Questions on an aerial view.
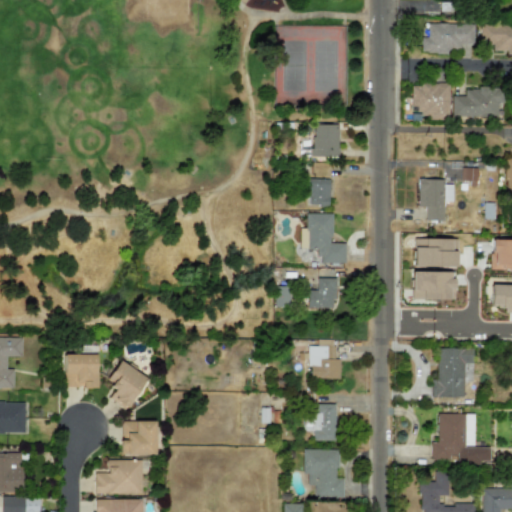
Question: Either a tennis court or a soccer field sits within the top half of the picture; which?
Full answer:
There is a tennis court within the top half of the picture.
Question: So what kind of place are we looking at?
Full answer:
The picture captures a residential area.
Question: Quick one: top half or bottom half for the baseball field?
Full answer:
The top half of the photo is where the baseball field is.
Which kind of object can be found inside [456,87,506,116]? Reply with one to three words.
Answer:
house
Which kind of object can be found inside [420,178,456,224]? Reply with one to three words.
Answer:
house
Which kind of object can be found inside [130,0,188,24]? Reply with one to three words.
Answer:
baseball field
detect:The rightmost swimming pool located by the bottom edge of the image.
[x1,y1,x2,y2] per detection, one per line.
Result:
[292,471,305,495]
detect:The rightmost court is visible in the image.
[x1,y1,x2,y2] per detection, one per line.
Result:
[310,26,347,107]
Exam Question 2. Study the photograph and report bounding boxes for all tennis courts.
[276,26,310,107]
[310,26,347,107]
